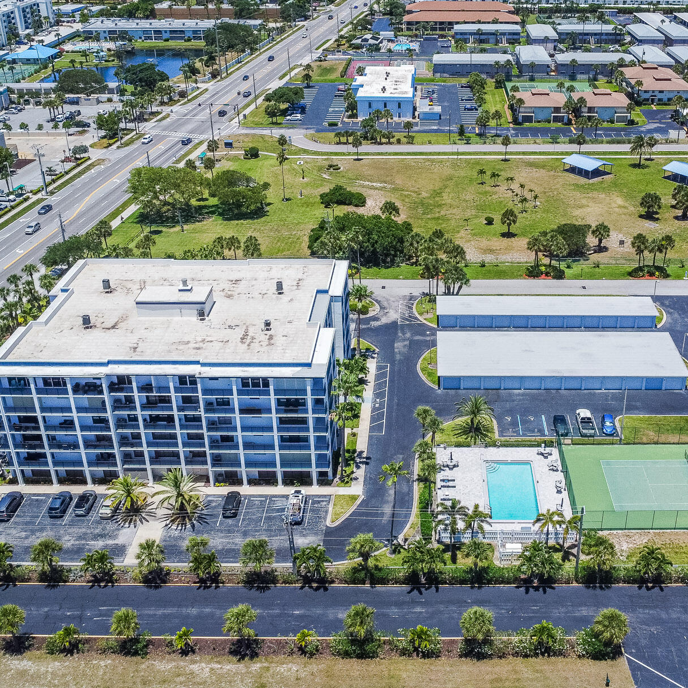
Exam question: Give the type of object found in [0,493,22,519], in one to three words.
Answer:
car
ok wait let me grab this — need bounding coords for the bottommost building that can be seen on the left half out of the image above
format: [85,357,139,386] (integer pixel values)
[0,254,354,486]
